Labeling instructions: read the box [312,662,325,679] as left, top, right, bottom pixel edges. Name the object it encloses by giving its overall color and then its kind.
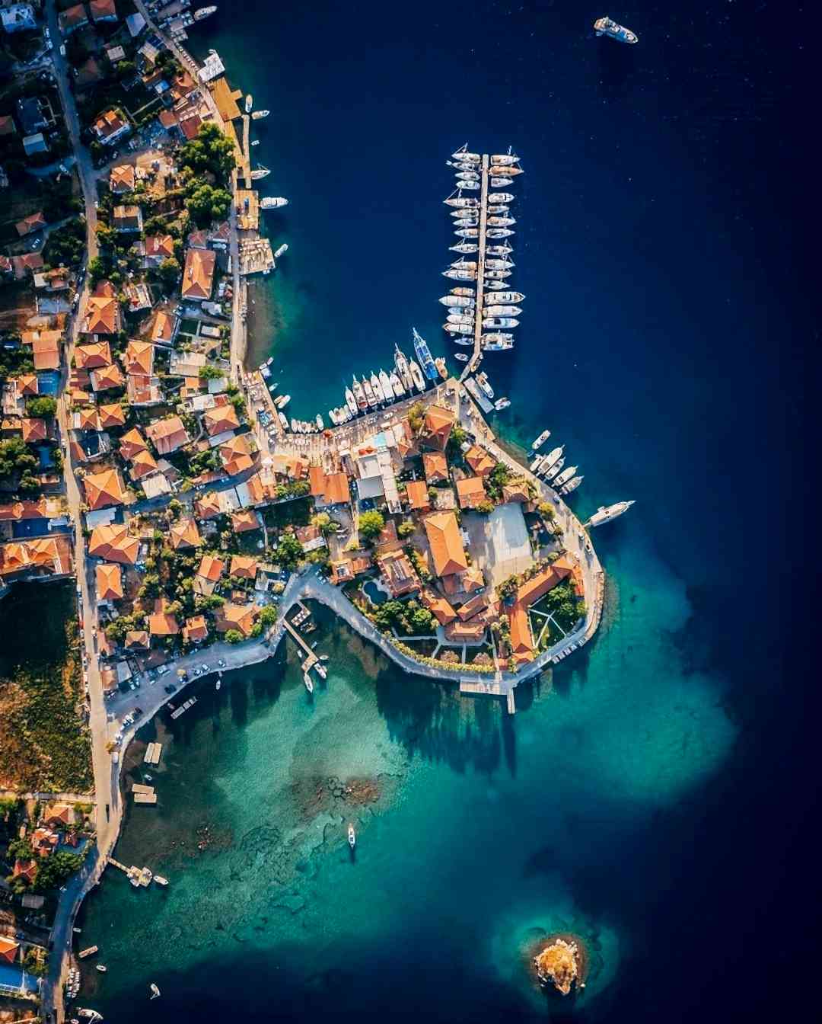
white boat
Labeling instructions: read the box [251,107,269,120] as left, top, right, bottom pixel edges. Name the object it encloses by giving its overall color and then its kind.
white boat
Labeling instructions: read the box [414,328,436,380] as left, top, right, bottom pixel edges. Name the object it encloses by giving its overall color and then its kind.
blue boat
